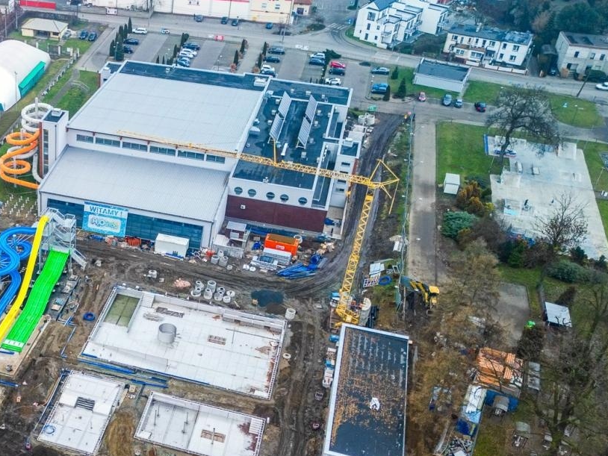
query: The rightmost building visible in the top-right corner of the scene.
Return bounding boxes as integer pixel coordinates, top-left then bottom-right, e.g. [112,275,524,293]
[551,29,608,78]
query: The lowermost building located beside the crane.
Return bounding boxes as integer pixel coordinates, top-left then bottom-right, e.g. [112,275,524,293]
[322,324,412,456]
